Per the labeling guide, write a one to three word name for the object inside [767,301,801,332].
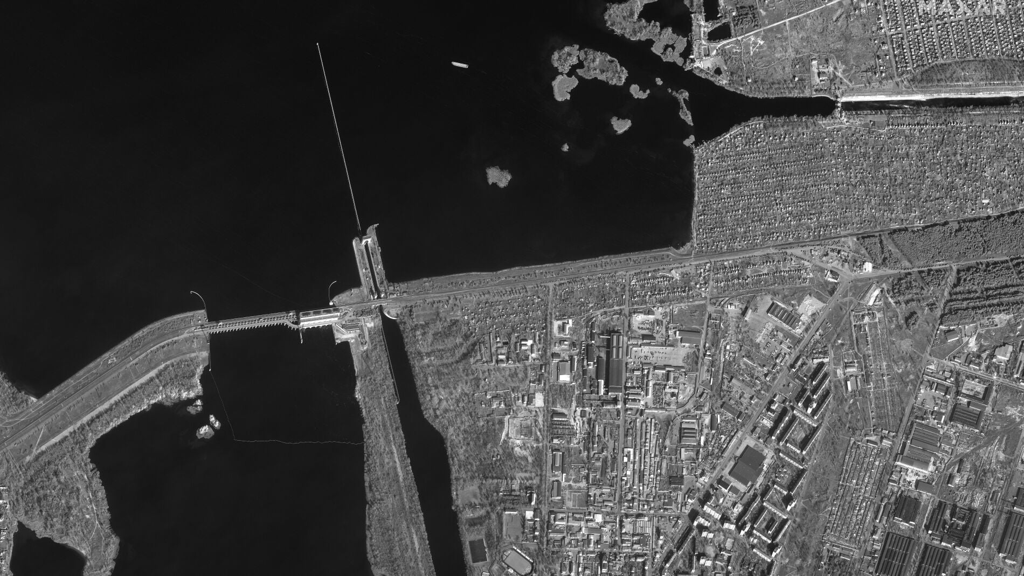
building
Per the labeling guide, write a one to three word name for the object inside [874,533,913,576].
building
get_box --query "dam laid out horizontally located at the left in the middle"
[204,311,303,335]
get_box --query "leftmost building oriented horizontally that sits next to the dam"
[301,307,340,328]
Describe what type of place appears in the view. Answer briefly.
port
